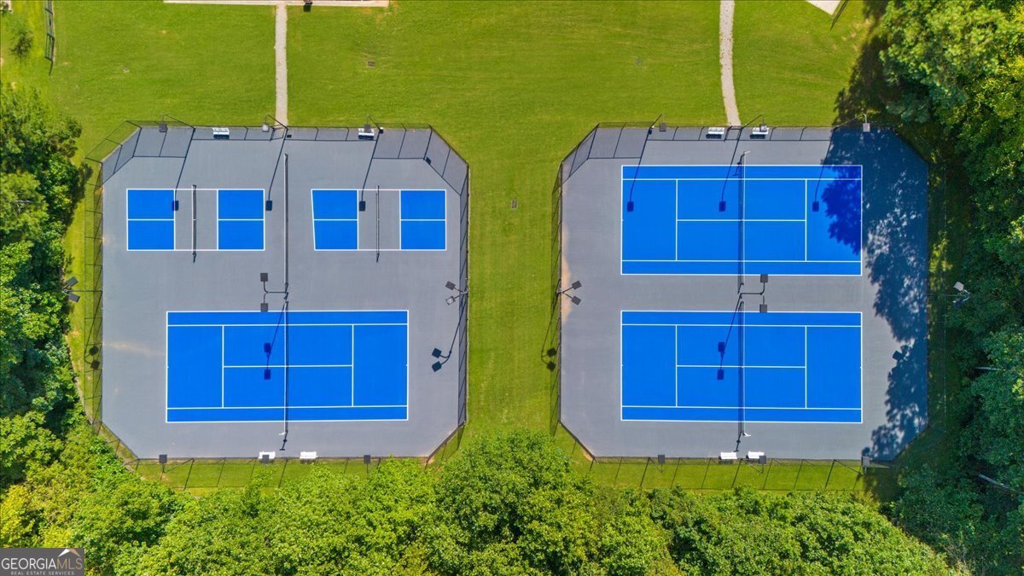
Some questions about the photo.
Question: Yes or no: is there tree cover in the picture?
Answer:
Yes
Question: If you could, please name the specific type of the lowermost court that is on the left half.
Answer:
tennis court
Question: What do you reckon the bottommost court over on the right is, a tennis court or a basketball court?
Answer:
tennis court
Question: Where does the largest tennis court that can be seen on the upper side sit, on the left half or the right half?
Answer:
right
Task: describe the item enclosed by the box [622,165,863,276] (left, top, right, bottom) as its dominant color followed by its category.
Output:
blue tennis court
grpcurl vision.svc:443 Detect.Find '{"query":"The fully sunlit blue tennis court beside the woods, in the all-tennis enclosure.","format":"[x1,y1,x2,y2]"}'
[621,311,863,424]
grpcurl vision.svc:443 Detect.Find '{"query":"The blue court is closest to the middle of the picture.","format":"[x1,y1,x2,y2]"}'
[311,189,446,250]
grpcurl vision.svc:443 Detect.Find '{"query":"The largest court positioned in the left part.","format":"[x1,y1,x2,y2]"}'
[168,310,408,423]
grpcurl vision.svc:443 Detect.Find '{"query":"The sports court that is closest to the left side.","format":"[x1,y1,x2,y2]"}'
[127,189,264,251]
